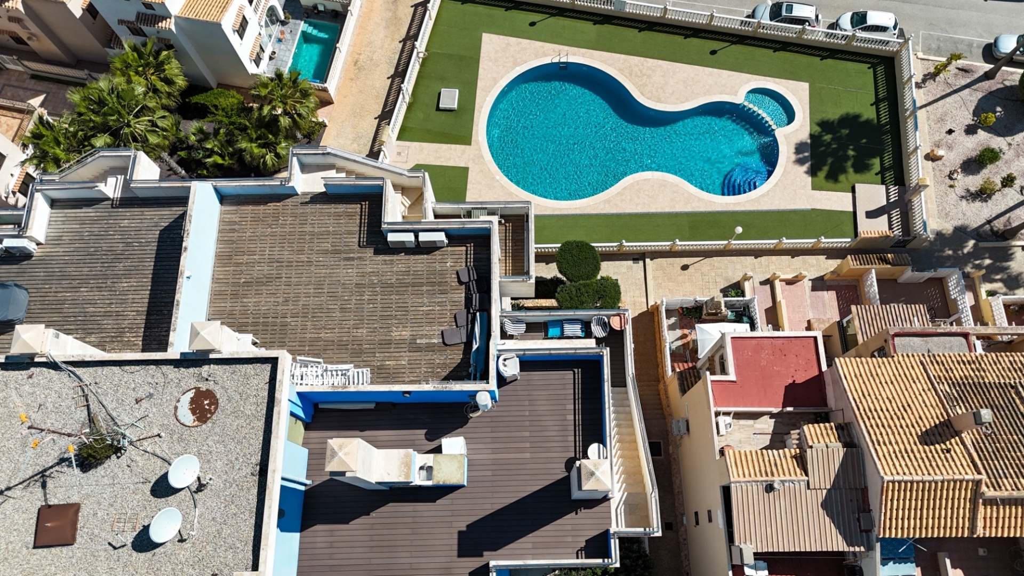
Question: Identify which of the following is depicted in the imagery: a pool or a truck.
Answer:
pool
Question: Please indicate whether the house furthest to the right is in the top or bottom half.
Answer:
bottom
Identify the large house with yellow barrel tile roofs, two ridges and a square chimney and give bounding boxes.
[822,319,1024,540]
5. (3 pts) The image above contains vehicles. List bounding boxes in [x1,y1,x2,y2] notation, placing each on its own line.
[832,8,898,45]
[984,33,1024,66]
[751,0,822,33]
